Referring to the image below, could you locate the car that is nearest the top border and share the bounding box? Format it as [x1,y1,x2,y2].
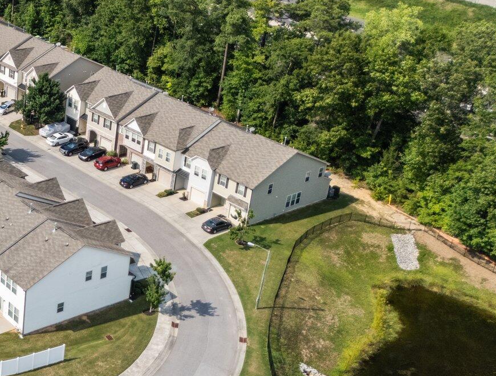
[0,98,21,111]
